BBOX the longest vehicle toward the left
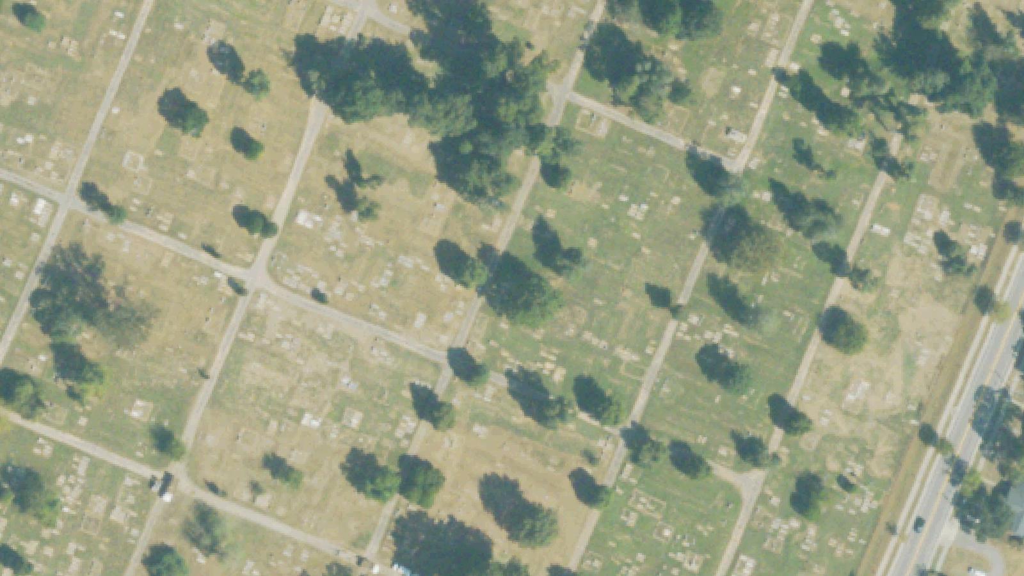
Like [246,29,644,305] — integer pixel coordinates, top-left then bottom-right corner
[159,472,174,494]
